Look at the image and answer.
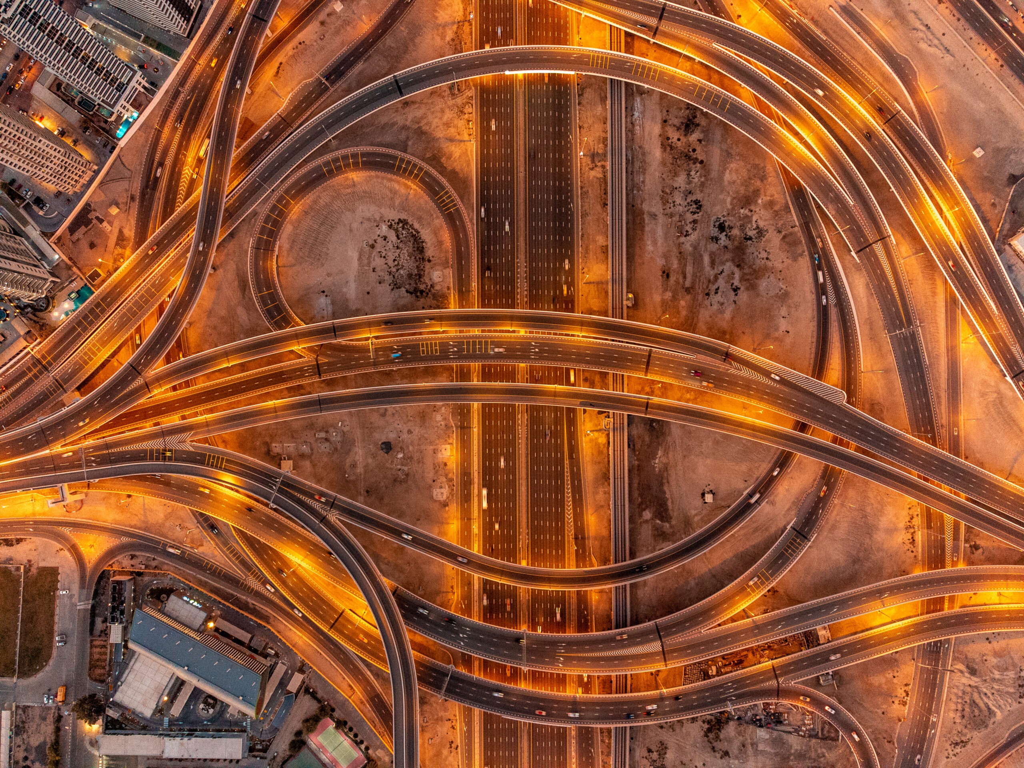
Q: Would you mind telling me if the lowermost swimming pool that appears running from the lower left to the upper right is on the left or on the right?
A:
left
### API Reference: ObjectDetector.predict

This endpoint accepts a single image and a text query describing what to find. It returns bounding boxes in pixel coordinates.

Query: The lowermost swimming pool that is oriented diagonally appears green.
[68,284,94,311]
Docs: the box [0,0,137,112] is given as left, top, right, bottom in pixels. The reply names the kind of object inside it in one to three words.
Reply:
building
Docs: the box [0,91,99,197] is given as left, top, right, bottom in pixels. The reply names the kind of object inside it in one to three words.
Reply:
building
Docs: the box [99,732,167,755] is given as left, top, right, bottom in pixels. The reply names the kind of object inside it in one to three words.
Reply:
shed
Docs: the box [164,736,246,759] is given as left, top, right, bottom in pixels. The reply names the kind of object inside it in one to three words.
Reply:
shed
